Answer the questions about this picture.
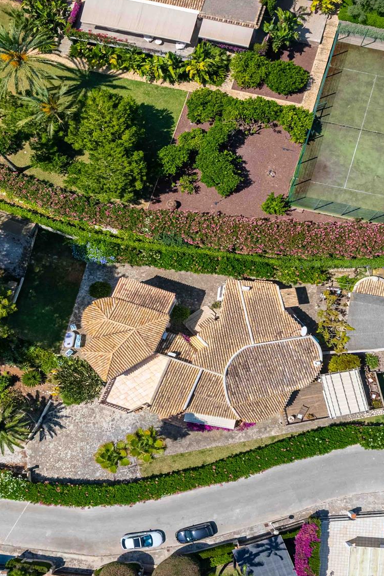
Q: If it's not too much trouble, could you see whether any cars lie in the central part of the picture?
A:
No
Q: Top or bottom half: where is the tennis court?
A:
top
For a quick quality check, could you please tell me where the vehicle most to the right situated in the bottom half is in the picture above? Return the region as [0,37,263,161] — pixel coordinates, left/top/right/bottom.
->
[176,521,218,545]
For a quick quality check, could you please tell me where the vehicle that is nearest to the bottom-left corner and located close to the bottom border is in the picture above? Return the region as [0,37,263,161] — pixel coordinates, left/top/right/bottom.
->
[121,528,164,551]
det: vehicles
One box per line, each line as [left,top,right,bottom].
[121,528,164,551]
[176,521,218,545]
